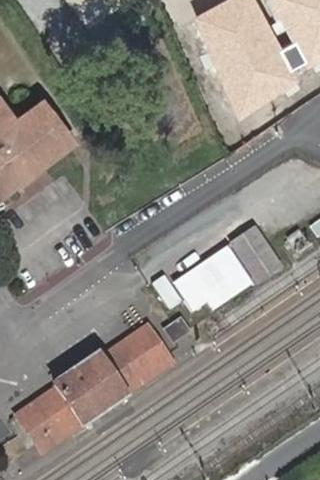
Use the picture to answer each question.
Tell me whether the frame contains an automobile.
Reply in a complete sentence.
Yes, there is an automobile in the image.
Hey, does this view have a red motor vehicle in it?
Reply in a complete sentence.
No, there's no red motor vehicle here.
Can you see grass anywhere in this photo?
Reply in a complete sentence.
Yes, grass can be seen from above here.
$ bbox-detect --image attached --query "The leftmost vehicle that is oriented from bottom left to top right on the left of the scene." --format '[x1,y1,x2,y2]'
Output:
[116,218,138,236]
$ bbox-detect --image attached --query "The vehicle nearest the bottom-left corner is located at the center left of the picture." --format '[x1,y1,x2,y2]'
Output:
[20,270,36,290]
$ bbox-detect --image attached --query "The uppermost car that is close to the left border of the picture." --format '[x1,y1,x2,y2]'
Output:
[6,208,24,230]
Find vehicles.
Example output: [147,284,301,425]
[56,244,74,266]
[65,235,84,257]
[116,218,138,236]
[6,208,24,230]
[20,270,36,290]
[140,203,162,221]
[175,253,200,272]
[162,190,184,208]
[74,226,92,248]
[84,216,100,236]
